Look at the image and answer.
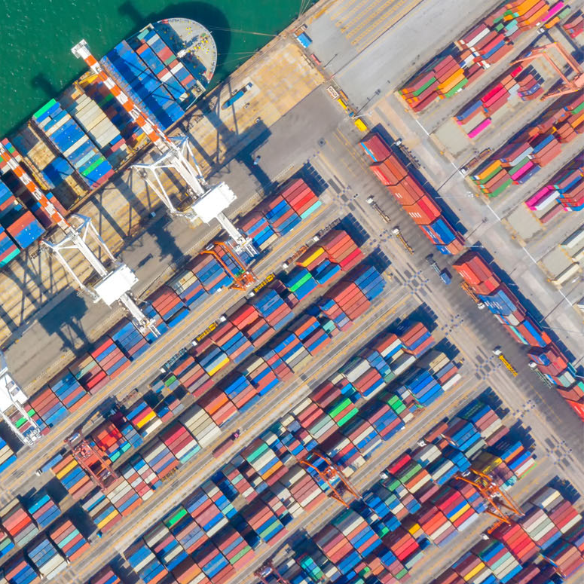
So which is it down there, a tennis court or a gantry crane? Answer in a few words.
gantry crane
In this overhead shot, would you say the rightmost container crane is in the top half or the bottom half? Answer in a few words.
top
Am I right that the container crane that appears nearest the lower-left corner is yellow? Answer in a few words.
No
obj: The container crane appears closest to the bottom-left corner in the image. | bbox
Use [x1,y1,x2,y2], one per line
[62,427,117,491]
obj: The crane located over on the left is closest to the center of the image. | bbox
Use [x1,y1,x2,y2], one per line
[199,240,259,292]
